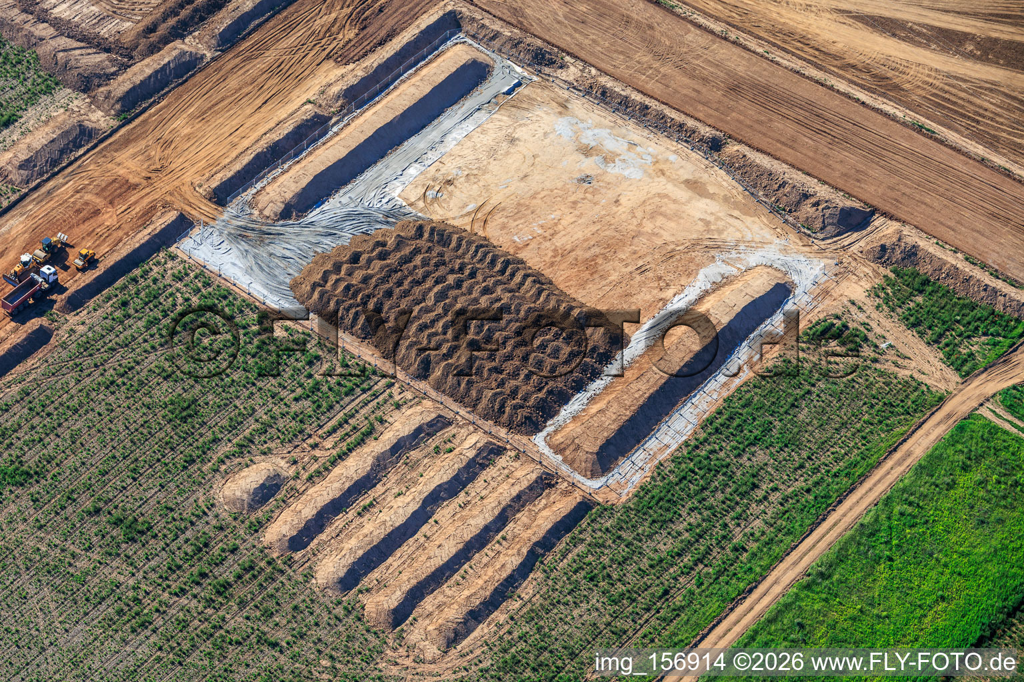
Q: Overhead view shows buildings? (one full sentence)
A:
No, there is no building in the image.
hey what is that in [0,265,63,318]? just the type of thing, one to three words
truck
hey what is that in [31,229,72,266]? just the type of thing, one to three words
work vehicle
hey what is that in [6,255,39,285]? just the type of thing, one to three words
work vehicle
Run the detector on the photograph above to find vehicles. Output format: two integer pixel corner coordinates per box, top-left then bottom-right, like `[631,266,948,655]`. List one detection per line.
[31,229,72,266]
[70,248,94,269]
[6,255,39,285]
[0,265,63,318]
